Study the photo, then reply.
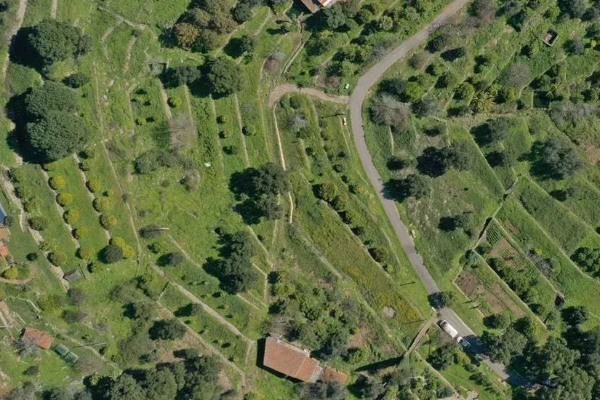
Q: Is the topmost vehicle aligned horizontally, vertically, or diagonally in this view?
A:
diagonally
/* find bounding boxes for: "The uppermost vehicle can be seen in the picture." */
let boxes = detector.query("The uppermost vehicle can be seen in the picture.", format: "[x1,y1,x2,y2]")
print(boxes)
[439,316,461,338]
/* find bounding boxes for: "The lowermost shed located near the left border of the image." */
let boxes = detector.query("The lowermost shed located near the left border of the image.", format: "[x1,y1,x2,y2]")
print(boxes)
[22,326,59,350]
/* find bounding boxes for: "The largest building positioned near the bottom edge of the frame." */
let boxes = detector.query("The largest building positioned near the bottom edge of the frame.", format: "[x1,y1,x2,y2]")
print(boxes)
[264,334,325,382]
